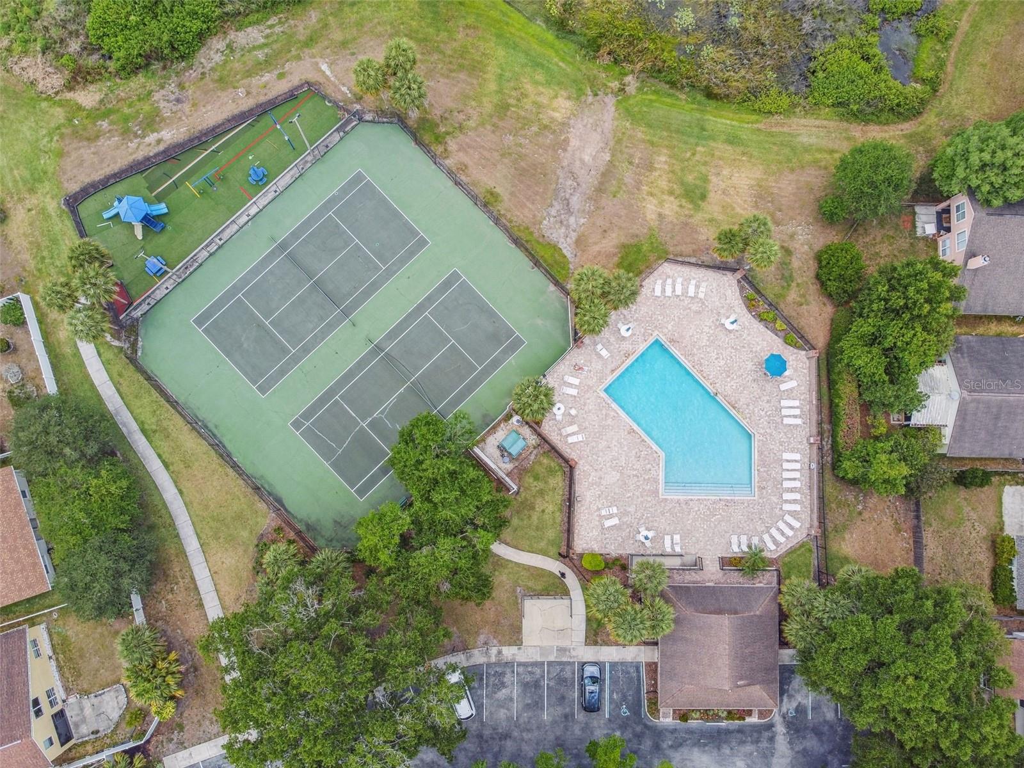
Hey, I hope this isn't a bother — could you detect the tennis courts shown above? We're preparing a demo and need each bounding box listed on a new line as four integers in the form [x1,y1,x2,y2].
[289,268,527,500]
[191,169,430,397]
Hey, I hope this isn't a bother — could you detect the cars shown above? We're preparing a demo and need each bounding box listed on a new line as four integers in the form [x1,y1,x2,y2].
[580,662,603,714]
[445,667,476,722]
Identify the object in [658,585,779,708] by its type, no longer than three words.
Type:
building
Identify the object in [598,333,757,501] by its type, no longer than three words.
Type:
swimming pool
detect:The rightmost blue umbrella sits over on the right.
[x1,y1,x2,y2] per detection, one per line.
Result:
[763,355,786,378]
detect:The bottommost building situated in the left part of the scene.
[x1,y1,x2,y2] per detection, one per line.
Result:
[0,626,74,768]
